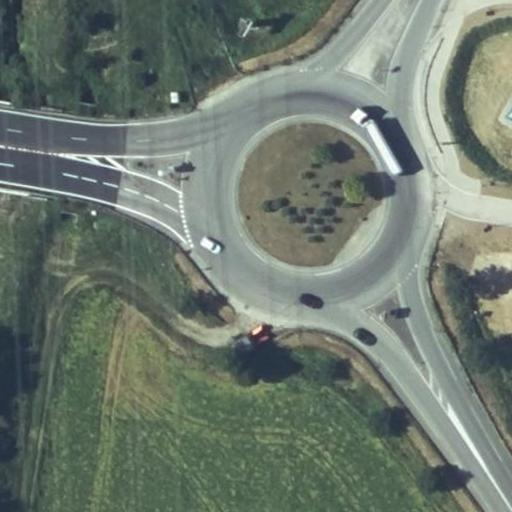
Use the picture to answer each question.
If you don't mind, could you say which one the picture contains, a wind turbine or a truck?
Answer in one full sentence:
I can see a truck in this picture.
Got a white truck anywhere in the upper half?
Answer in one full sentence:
Yes, a white truck shows up in the upper half.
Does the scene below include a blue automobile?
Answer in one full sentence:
No, the scene contains no blue automobile.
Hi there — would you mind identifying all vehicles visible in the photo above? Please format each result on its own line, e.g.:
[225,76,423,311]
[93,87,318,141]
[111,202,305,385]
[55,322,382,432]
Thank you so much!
[351,108,404,174]
[300,294,324,308]
[354,328,376,346]
[240,322,270,348]
[200,236,222,254]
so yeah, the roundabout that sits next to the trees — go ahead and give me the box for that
[190,72,434,318]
